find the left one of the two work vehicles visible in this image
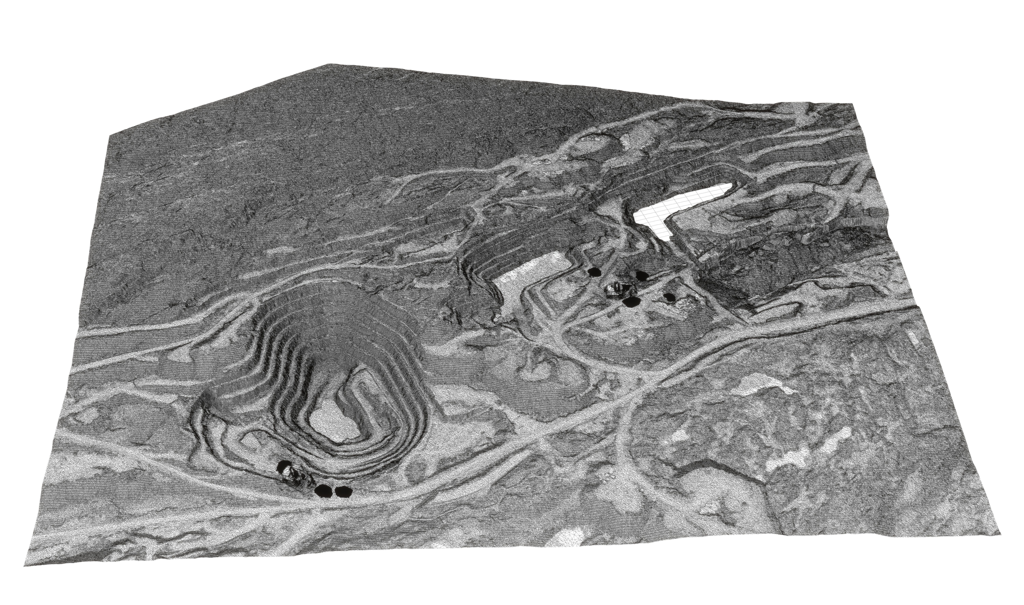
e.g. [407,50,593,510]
[278,465,314,490]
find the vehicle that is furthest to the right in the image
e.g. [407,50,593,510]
[604,283,638,301]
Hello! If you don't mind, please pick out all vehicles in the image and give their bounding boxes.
[278,465,314,490]
[604,283,638,301]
